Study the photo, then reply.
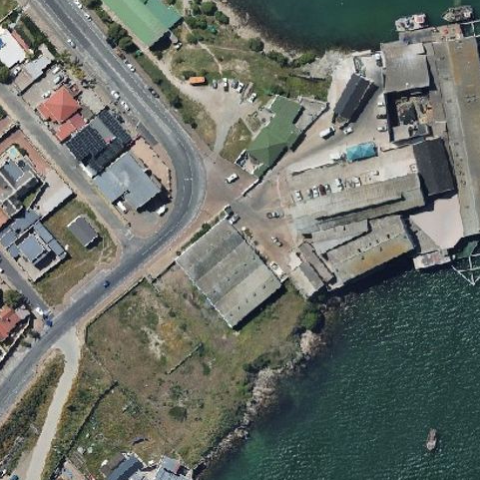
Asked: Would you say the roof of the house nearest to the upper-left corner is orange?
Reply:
No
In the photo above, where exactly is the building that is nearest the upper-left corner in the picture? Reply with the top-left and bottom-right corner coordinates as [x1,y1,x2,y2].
[0,26,28,68]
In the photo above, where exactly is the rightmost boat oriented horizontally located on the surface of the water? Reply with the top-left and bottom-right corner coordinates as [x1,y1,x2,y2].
[443,5,478,20]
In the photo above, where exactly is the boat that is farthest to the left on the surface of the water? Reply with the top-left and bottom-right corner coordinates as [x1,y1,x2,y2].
[395,15,426,31]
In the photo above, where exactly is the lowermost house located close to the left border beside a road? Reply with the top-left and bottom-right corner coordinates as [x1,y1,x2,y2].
[0,305,30,341]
